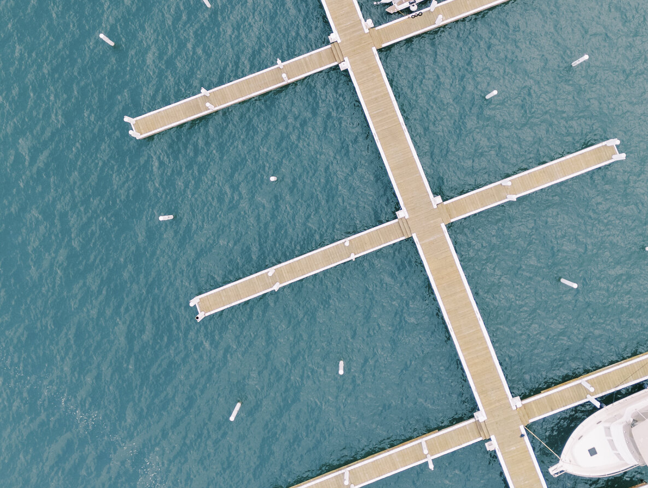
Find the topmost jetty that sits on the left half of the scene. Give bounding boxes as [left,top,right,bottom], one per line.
[131,42,344,138]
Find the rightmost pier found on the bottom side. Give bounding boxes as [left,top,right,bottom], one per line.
[516,350,648,425]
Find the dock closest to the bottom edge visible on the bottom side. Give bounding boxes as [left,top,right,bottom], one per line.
[287,417,489,488]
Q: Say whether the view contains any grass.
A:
No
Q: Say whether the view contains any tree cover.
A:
No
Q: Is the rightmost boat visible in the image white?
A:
Yes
